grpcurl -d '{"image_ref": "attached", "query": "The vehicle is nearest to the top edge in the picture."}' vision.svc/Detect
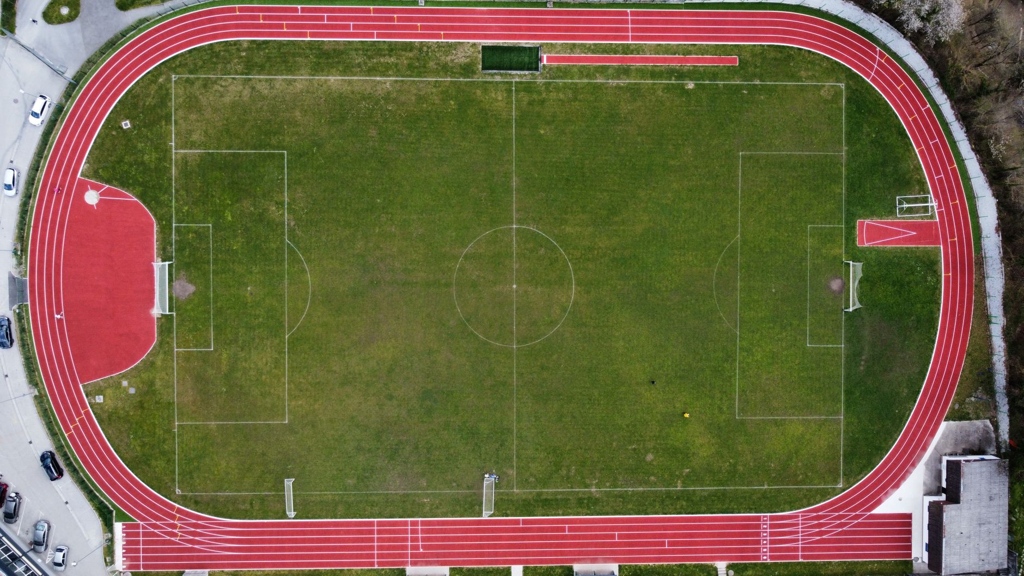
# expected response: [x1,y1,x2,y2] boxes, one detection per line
[28,94,51,127]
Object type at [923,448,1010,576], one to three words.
building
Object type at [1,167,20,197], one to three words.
car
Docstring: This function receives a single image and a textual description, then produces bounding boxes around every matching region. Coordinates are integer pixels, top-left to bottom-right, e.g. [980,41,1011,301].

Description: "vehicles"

[1,167,20,197]
[0,317,14,348]
[40,450,62,482]
[0,482,8,511]
[3,494,22,524]
[51,545,69,573]
[28,94,51,127]
[31,520,51,553]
